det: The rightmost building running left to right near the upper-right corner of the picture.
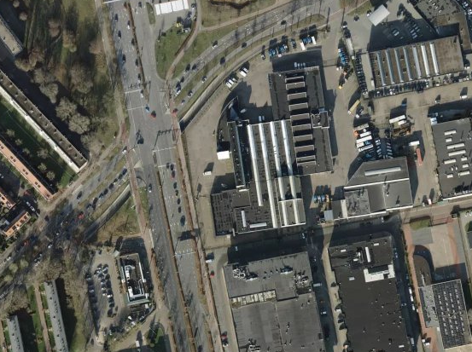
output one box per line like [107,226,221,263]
[368,35,463,89]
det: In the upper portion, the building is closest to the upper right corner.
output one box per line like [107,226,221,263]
[415,0,472,54]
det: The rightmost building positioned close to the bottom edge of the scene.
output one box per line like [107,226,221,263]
[431,279,472,351]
